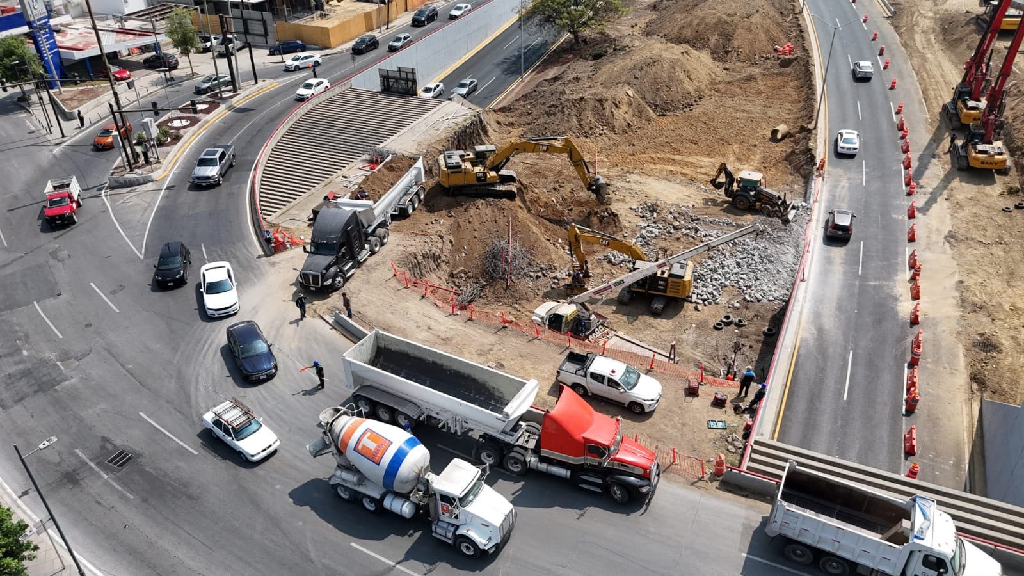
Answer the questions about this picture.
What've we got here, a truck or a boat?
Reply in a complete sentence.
There is a truck in the scene.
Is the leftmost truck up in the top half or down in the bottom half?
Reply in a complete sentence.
The leftmost truck sits in the top half of the picture.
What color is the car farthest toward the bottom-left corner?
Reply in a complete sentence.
From above, the car farthest toward the bottom-left corner appears white.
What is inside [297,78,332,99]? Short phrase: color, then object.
white car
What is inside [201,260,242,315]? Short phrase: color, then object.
white car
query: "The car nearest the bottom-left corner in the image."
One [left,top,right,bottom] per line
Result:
[202,398,280,462]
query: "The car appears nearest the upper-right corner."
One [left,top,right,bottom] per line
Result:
[852,59,874,78]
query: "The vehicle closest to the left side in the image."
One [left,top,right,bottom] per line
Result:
[41,168,81,224]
